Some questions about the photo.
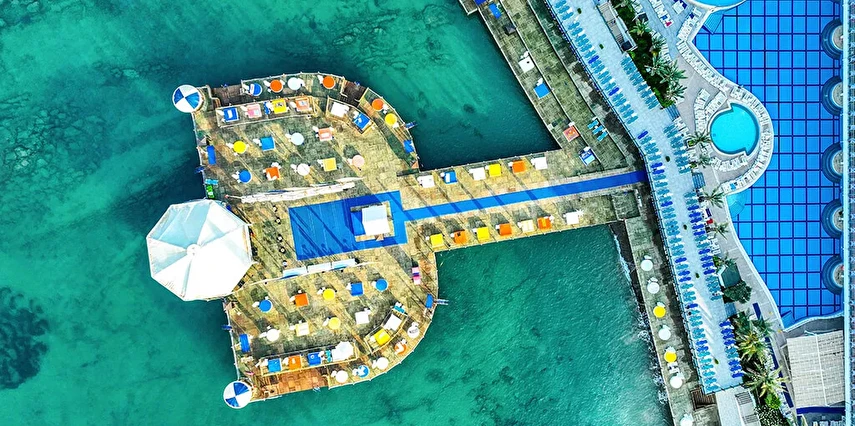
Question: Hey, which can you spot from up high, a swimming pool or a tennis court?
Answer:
swimming pool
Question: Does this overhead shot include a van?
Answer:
No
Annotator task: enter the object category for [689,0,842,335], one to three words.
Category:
swimming pool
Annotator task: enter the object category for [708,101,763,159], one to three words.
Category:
swimming pool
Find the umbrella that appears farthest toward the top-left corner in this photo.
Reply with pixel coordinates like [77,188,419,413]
[172,84,203,114]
